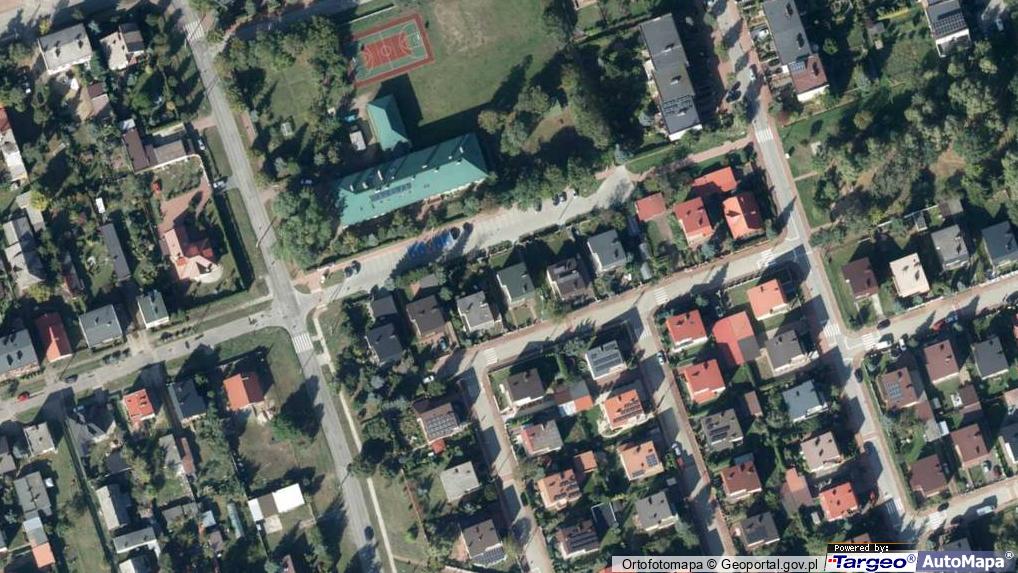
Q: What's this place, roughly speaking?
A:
residential area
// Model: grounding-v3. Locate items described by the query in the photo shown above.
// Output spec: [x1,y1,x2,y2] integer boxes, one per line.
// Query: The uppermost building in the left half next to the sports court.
[366,95,412,151]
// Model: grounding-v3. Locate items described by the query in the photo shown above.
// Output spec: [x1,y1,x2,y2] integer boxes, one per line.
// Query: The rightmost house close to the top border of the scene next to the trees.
[919,0,973,60]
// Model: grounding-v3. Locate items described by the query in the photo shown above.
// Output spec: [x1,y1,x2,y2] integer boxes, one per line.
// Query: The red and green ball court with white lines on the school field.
[342,14,434,87]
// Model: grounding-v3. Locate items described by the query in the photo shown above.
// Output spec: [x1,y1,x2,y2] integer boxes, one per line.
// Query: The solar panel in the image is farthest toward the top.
[933,14,964,37]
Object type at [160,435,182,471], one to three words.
shed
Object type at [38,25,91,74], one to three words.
house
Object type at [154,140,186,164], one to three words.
building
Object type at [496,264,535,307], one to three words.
house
